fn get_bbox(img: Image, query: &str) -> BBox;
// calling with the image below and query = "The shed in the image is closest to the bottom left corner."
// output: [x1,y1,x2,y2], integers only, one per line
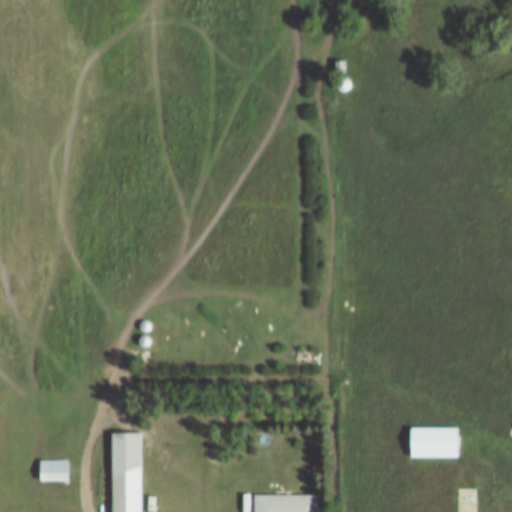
[39,460,71,482]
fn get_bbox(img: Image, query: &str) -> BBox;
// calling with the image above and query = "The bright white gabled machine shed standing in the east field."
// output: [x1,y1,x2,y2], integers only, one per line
[410,426,460,459]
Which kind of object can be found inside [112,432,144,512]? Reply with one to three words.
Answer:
barn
